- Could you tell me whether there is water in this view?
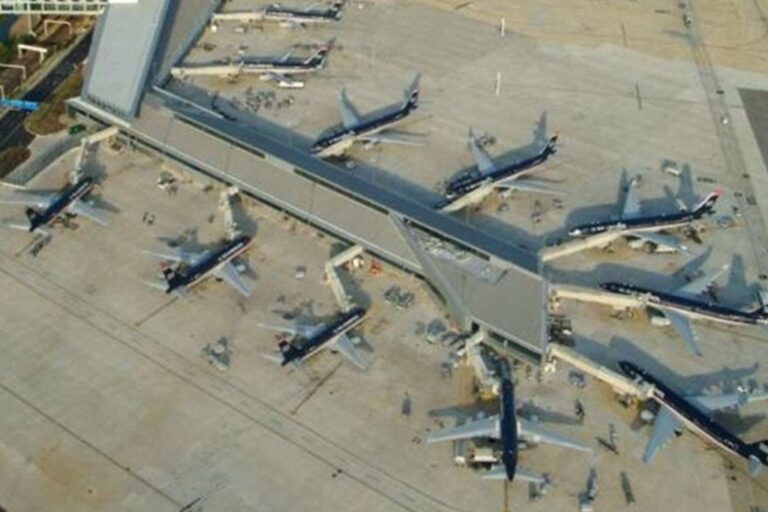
No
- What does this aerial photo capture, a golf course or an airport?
airport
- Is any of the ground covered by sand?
No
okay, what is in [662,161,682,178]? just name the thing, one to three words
vehicle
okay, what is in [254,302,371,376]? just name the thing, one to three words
airplane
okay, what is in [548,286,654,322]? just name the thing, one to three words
jet bridge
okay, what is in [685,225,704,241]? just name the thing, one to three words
work vehicle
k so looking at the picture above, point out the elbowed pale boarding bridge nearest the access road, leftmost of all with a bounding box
[70,126,120,184]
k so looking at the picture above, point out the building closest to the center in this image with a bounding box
[64,0,548,383]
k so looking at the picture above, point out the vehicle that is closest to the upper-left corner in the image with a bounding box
[66,123,87,136]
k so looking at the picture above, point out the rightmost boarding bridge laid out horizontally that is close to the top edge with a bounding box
[210,7,266,33]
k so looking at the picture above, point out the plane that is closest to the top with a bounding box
[248,0,344,35]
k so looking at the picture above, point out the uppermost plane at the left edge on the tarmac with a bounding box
[0,175,111,236]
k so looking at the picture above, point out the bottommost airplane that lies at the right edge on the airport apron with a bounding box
[617,361,768,478]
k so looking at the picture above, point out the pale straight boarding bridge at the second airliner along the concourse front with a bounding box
[221,186,244,241]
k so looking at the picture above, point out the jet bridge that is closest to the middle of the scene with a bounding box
[326,243,362,314]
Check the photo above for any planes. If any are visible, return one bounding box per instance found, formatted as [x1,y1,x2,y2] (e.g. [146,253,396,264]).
[617,361,768,478]
[220,41,324,91]
[447,130,571,200]
[254,302,371,376]
[310,85,431,159]
[141,233,252,300]
[602,267,768,352]
[248,0,344,35]
[426,378,593,483]
[0,175,111,236]
[568,181,724,256]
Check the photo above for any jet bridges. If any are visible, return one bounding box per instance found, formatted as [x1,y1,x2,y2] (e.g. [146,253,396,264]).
[70,126,120,184]
[170,60,244,89]
[210,7,266,33]
[463,327,511,396]
[326,243,362,314]
[548,286,654,322]
[303,130,357,166]
[436,174,494,219]
[543,343,664,406]
[536,219,632,265]
[221,186,244,241]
